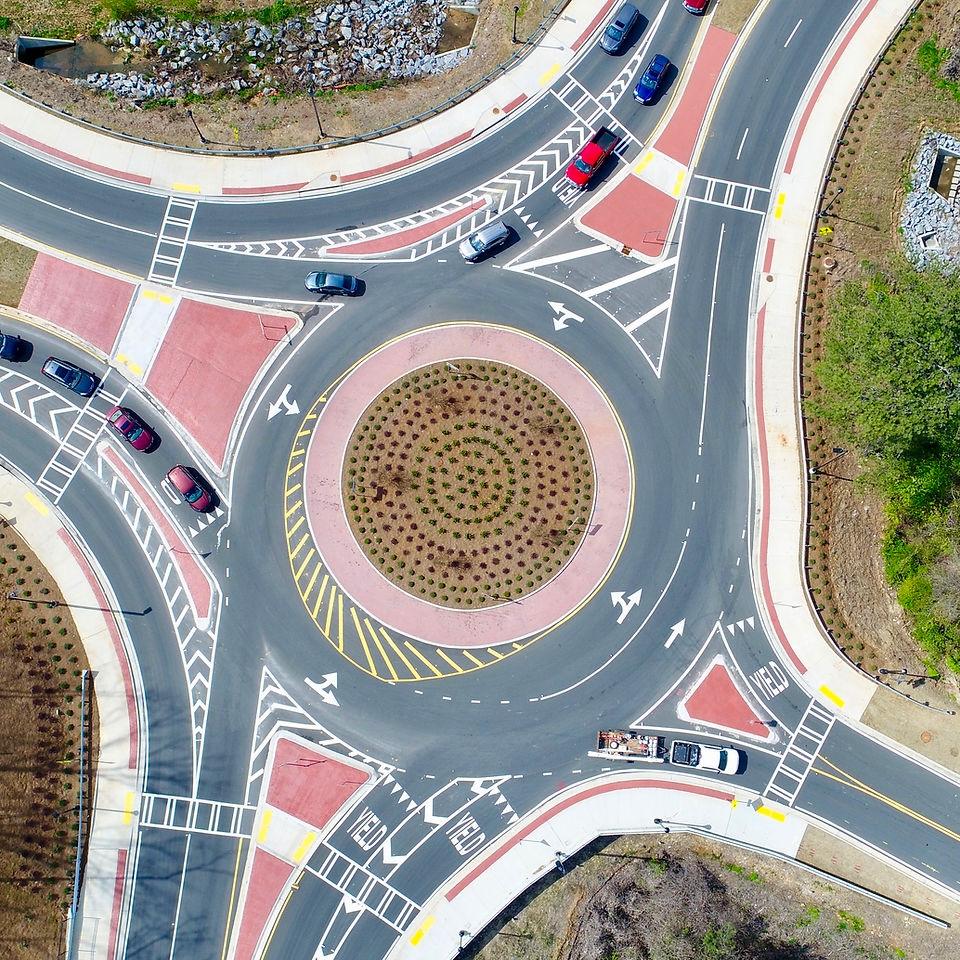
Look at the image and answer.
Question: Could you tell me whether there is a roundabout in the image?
Yes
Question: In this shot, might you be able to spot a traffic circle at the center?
Yes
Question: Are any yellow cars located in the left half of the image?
No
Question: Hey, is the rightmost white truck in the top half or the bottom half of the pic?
bottom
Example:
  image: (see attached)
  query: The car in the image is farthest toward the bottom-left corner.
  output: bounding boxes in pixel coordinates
[162,466,208,513]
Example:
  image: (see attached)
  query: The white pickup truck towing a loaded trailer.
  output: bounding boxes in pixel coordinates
[670,742,742,775]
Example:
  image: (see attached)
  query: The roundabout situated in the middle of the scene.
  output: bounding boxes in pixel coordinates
[206,238,746,779]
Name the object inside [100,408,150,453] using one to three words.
car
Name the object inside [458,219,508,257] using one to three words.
car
